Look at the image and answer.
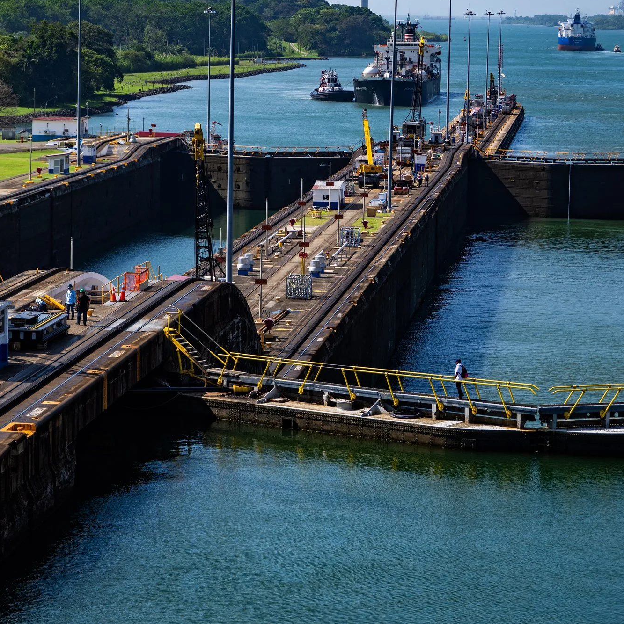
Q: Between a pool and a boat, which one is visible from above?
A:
boat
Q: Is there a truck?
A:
Yes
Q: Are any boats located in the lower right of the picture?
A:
No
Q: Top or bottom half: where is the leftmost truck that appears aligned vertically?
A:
top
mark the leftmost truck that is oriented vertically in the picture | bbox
[351,103,389,187]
